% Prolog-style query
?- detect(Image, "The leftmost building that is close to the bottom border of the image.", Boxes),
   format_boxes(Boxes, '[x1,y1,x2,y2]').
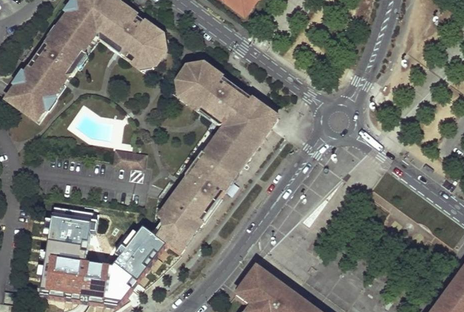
[38,206,165,307]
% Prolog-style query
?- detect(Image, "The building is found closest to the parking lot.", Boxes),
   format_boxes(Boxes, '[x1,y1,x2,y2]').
[114,150,147,170]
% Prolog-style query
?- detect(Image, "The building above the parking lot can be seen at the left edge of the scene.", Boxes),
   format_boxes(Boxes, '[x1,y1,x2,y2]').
[3,0,168,125]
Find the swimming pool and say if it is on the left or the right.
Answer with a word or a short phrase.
left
